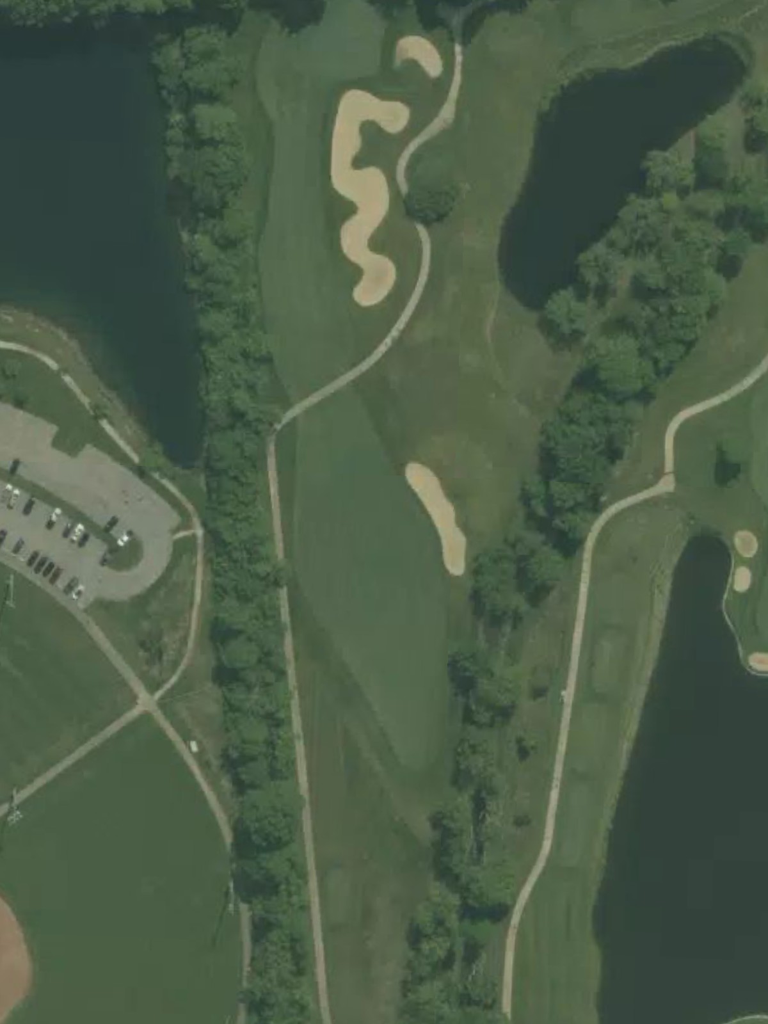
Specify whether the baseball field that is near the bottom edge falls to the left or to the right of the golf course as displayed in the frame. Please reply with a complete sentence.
From the viewer's perspective, the baseball field that is near the bottom edge falls to the left of the golf course.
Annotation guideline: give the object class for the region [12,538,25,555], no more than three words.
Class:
vehicle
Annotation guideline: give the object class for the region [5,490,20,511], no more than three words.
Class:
vehicle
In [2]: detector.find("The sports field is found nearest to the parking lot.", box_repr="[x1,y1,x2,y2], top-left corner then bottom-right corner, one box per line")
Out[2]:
[0,566,138,796]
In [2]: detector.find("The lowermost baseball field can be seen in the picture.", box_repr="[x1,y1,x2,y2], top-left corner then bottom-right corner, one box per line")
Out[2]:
[0,710,239,1024]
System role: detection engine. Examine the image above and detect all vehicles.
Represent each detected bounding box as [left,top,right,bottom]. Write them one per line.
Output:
[42,562,55,579]
[99,551,109,568]
[65,578,78,595]
[70,526,82,544]
[46,510,61,530]
[49,567,62,585]
[72,584,85,601]
[35,556,47,573]
[12,538,25,555]
[0,484,12,505]
[77,531,90,549]
[27,550,40,568]
[5,490,20,511]
[22,498,35,516]
[0,530,8,547]
[117,530,132,547]
[9,458,22,475]
[104,516,118,533]
[61,523,73,540]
